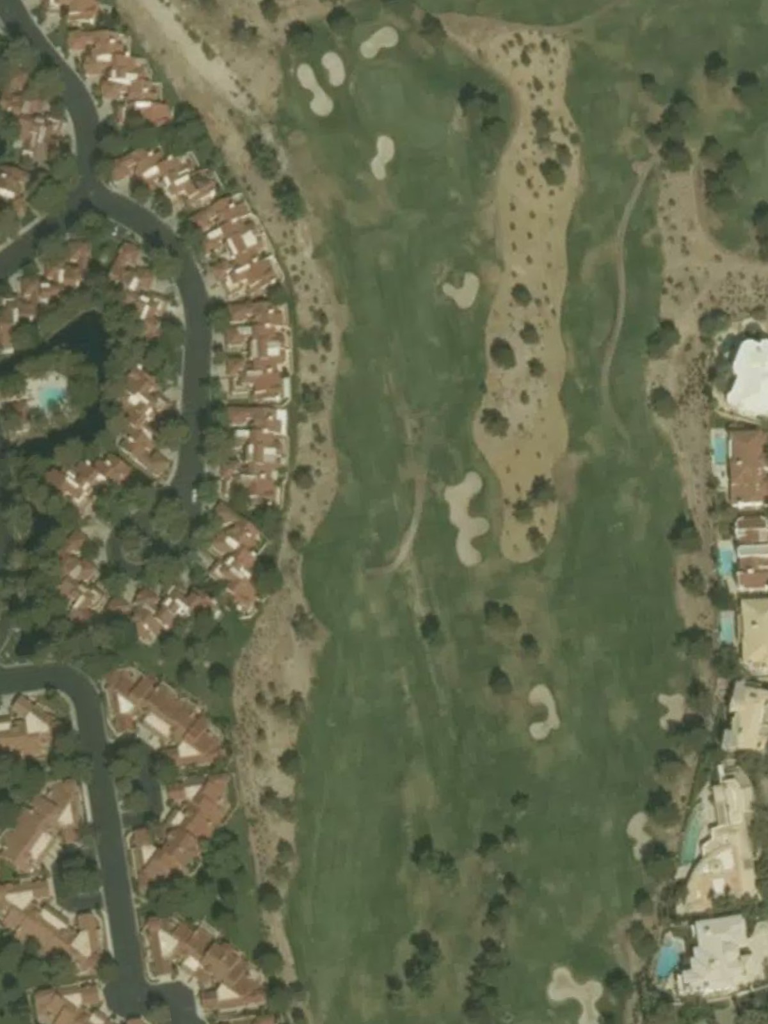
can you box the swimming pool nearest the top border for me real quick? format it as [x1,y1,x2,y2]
[26,372,69,430]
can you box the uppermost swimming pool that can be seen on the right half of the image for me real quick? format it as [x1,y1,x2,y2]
[711,428,728,491]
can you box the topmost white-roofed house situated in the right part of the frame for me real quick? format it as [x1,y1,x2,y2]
[710,318,768,422]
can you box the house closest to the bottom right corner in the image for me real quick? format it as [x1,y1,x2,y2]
[671,915,768,1022]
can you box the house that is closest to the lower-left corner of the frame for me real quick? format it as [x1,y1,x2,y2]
[28,980,107,1024]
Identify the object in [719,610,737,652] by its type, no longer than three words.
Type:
swimming pool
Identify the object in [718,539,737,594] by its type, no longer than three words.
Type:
swimming pool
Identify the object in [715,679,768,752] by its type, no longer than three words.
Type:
house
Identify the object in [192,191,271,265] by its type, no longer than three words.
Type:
house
